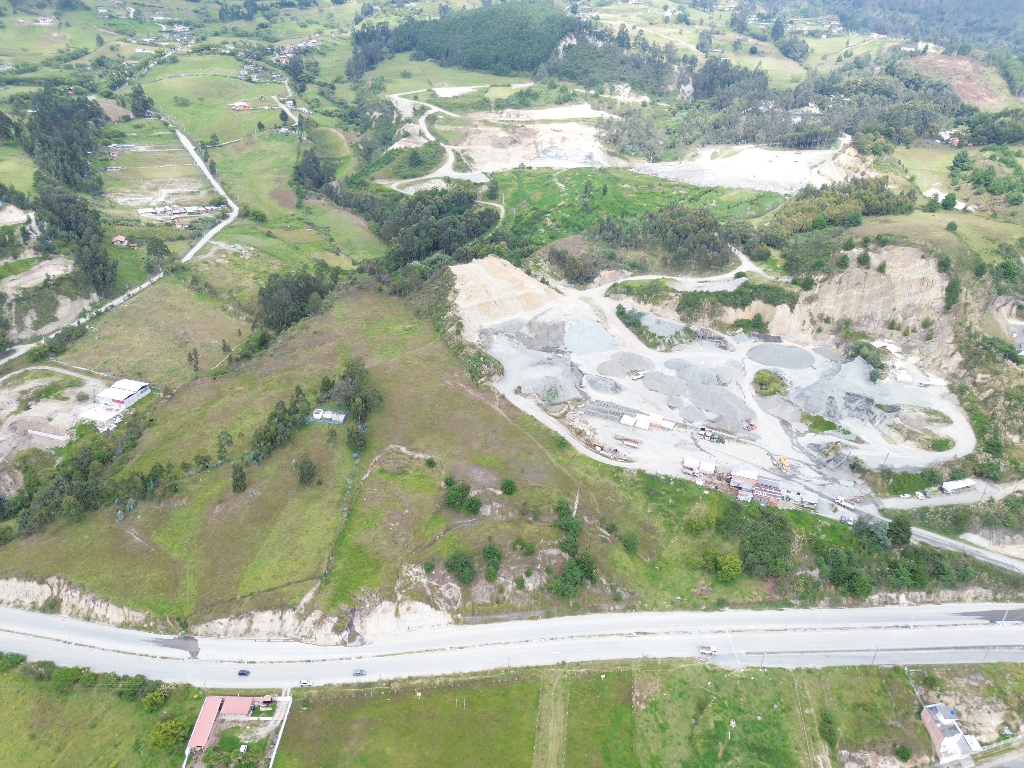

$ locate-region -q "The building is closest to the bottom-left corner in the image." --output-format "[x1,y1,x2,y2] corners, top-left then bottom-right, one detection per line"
[187,695,223,753]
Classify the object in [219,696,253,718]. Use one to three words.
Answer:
house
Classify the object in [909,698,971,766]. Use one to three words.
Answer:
house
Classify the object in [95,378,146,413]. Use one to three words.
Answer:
building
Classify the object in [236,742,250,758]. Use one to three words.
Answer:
car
